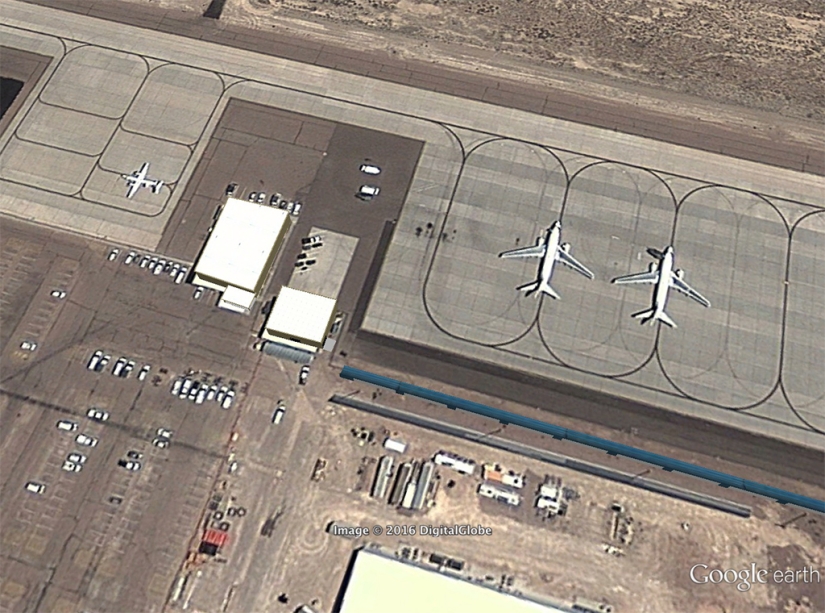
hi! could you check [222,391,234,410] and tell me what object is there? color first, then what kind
white vehicle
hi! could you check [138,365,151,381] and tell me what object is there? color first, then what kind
white vehicle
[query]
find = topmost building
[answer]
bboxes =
[193,197,293,302]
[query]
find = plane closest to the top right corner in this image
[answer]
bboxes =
[616,246,714,329]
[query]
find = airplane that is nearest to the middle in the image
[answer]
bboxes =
[500,219,595,300]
